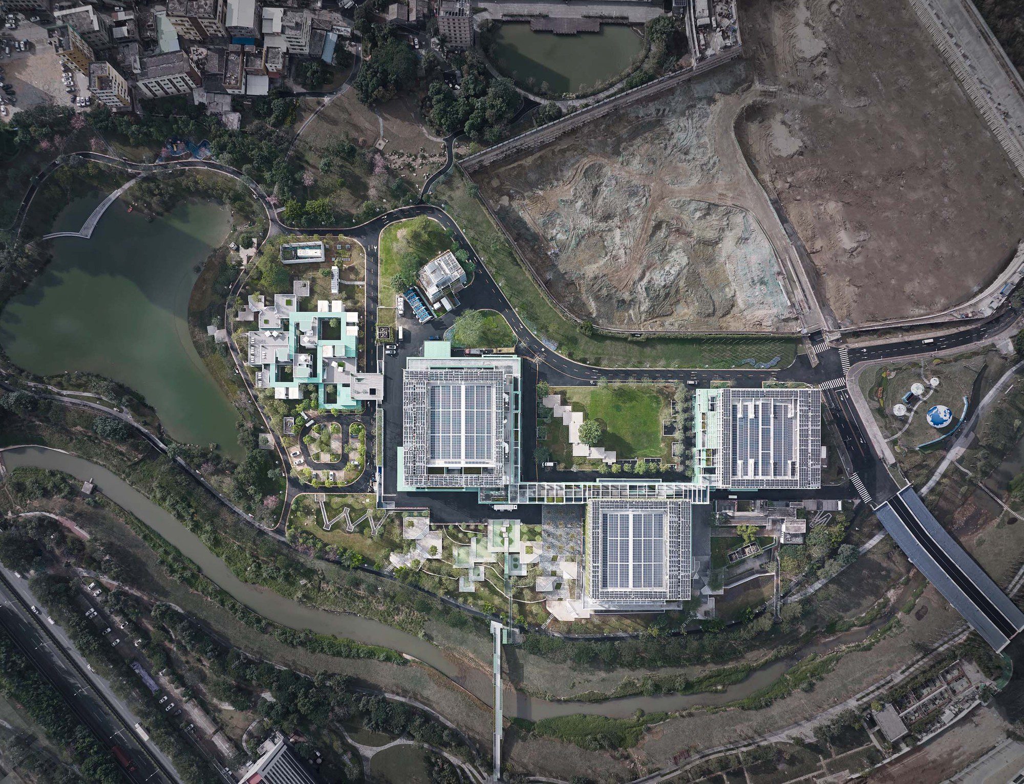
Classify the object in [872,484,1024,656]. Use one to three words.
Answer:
bridge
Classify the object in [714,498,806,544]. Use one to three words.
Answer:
house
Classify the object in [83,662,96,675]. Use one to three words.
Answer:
vehicle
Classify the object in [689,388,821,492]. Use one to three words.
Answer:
building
